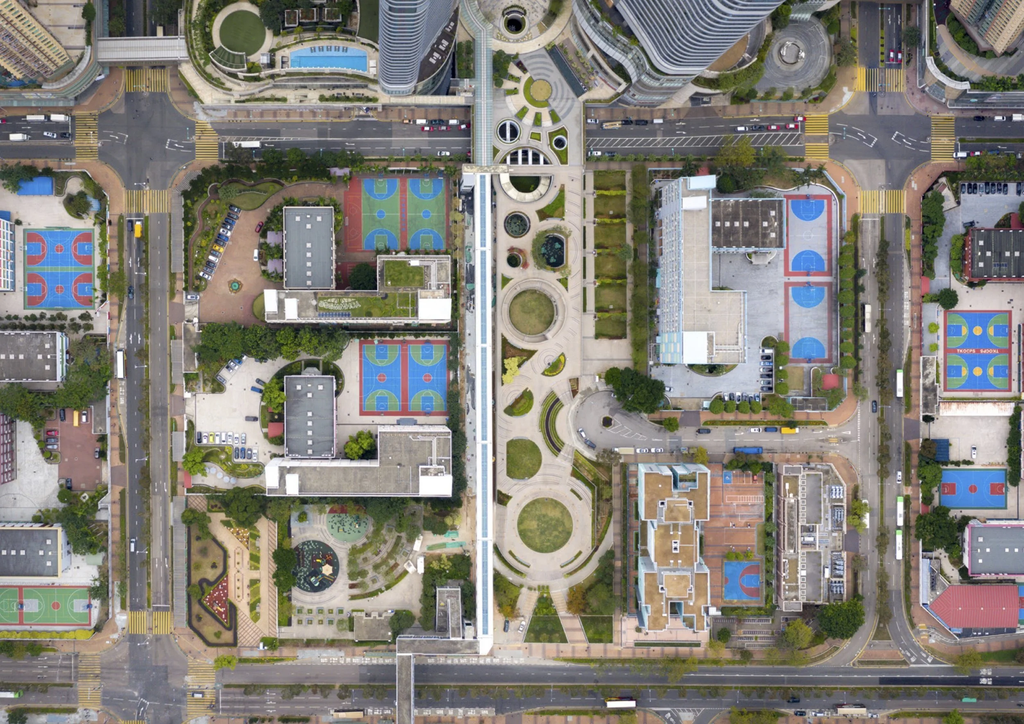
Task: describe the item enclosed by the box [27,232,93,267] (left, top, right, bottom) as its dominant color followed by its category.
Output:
blue basketball court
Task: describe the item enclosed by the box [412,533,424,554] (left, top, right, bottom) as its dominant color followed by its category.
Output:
white vehicle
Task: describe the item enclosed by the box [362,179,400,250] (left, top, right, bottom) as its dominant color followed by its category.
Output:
green basketball court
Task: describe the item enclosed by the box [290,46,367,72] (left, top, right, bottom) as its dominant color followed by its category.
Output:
blue swimming pool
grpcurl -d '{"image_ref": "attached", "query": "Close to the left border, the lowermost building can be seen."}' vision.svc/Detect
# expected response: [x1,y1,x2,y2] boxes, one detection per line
[0,519,73,578]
